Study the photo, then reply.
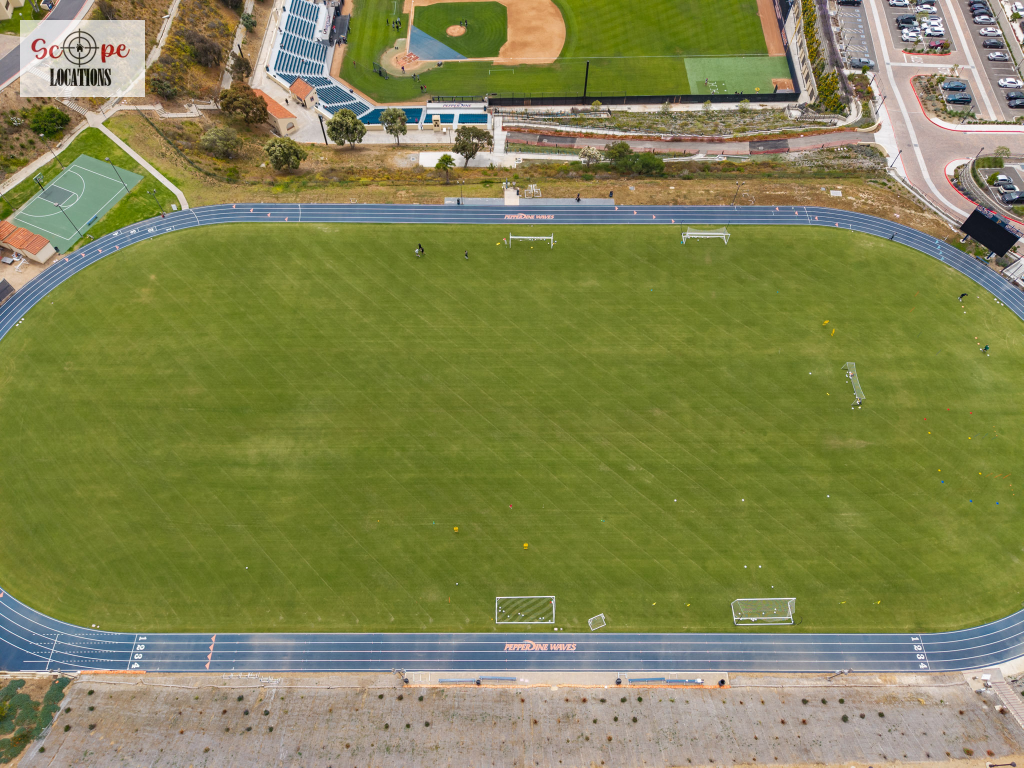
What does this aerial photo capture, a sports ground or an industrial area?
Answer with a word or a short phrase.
sports ground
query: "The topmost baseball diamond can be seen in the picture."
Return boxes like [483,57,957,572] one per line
[332,0,794,104]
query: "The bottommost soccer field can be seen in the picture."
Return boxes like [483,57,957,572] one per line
[0,222,1024,632]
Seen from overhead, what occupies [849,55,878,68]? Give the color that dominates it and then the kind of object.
gray vehicle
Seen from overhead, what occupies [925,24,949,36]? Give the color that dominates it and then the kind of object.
white vehicle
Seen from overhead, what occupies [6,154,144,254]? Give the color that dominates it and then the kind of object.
green basketball court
